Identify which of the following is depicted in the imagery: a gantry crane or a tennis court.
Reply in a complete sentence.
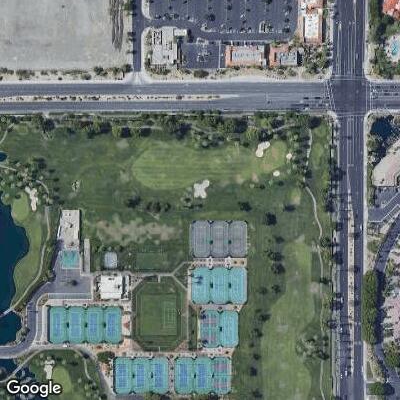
Visible in the photo is a tennis court.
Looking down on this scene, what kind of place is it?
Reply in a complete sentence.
This looks like a golf course.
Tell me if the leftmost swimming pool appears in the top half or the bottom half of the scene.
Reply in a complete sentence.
You can find the leftmost swimming pool in the bottom half.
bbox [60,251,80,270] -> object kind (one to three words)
swimming pool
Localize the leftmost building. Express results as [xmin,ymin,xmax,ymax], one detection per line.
[57,211,79,247]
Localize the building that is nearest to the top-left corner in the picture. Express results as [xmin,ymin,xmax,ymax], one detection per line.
[151,28,177,63]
